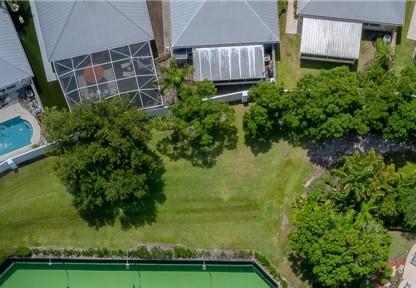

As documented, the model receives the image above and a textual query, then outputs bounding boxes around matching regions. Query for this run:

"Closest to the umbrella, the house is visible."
[35,0,154,67]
